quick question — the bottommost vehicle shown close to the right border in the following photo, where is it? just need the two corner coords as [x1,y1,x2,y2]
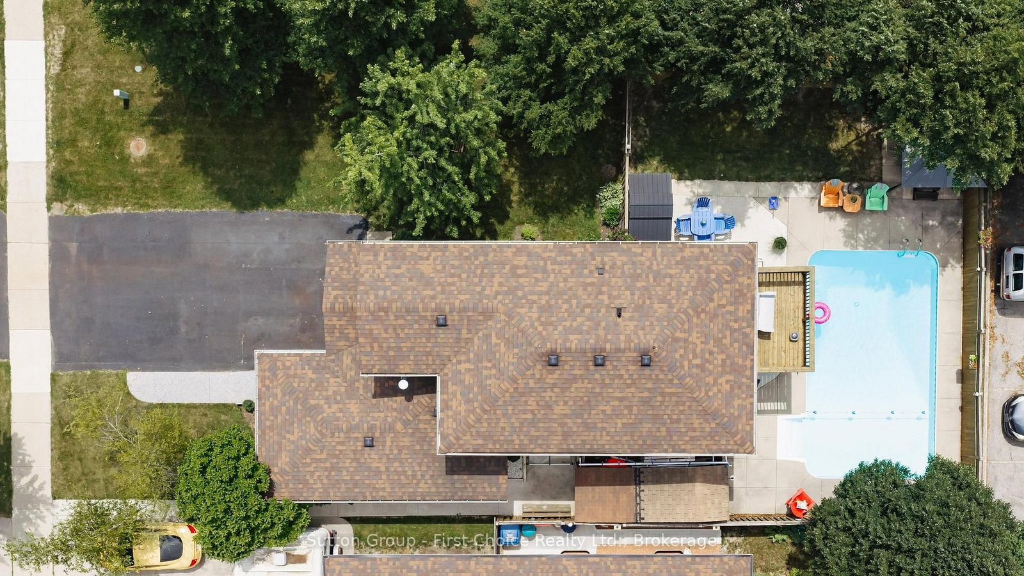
[999,394,1024,443]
